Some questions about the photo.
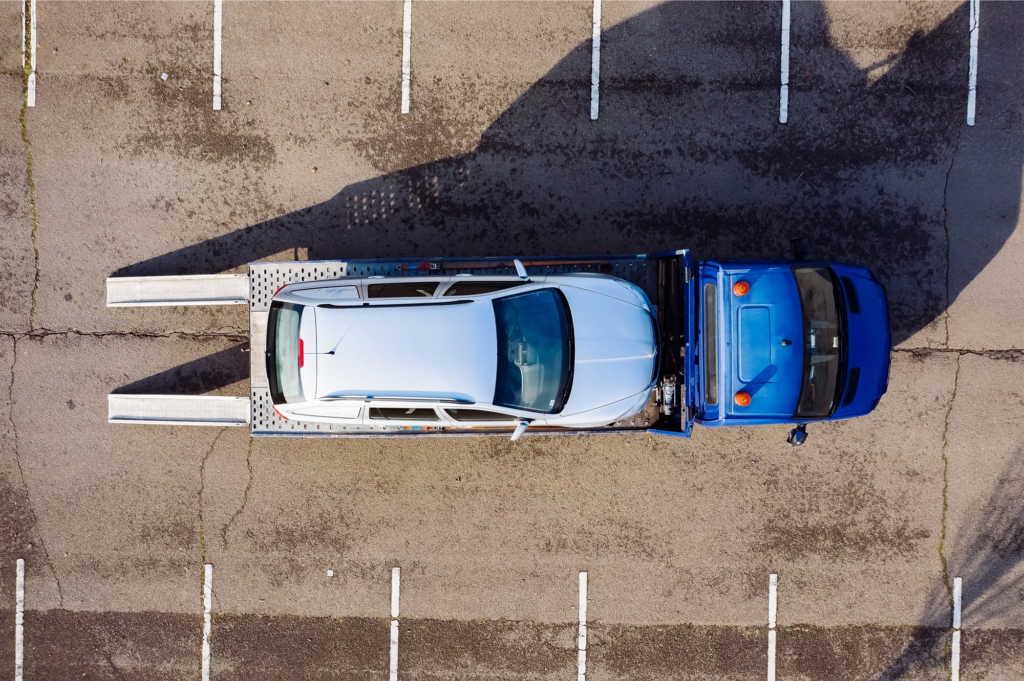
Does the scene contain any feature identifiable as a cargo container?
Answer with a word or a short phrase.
No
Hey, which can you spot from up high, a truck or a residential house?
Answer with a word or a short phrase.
truck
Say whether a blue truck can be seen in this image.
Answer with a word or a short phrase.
Yes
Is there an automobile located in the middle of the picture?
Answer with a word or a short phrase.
Yes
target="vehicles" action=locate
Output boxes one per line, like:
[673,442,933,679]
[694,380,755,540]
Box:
[263,258,662,441]
[241,238,889,446]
